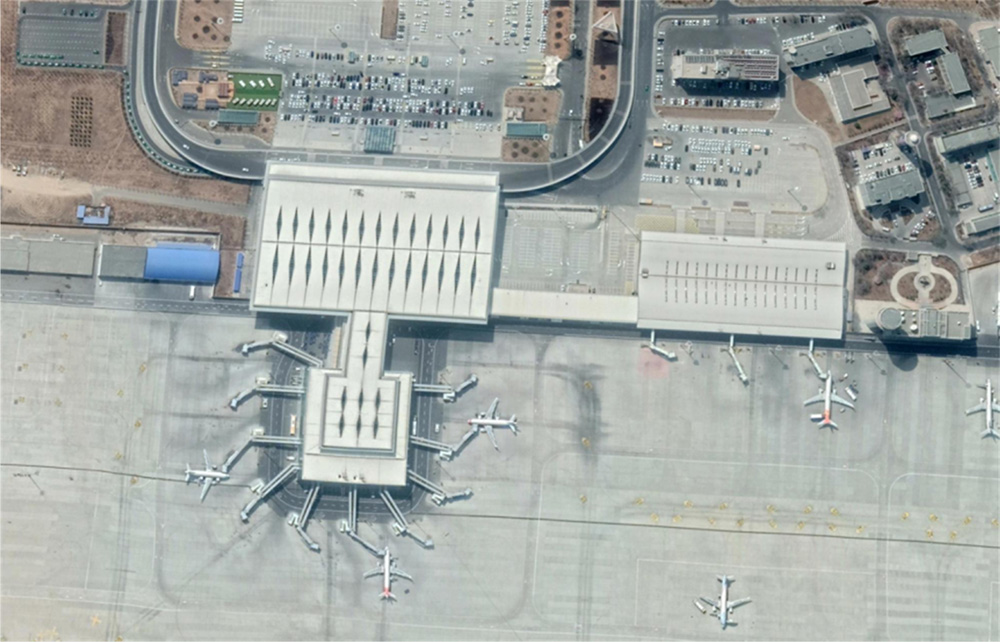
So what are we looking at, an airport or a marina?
airport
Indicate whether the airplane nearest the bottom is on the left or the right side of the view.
right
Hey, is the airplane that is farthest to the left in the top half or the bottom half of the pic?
bottom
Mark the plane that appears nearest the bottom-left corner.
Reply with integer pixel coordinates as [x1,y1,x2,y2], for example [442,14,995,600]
[184,448,230,498]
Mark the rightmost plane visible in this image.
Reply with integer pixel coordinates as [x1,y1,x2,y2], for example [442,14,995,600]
[965,380,1000,437]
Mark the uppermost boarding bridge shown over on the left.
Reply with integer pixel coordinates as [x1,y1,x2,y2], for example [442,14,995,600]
[241,331,326,368]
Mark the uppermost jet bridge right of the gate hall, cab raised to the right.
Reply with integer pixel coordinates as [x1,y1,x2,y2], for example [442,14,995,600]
[411,374,479,404]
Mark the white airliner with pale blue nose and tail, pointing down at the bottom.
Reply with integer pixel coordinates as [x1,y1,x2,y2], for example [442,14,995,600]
[699,575,750,630]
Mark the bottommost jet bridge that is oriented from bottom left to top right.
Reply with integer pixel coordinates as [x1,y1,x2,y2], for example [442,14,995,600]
[238,461,300,523]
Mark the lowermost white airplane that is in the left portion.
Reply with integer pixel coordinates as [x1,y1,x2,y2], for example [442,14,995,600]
[362,547,412,600]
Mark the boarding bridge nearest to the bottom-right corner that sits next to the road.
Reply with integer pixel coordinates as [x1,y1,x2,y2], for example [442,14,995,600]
[807,338,827,381]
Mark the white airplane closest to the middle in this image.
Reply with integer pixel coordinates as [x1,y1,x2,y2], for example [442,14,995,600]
[468,398,521,448]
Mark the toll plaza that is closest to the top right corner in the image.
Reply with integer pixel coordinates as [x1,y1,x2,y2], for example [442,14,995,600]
[542,55,562,86]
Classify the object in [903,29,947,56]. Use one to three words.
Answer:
building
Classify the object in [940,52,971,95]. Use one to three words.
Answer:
building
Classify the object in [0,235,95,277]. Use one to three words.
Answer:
hangar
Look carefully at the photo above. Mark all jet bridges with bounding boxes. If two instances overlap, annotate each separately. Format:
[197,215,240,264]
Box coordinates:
[229,375,305,408]
[727,333,748,384]
[378,487,435,547]
[286,484,322,551]
[408,423,479,462]
[406,468,474,506]
[648,329,677,360]
[338,486,385,557]
[411,374,479,404]
[238,461,300,523]
[241,331,326,368]
[807,338,827,381]
[221,426,302,474]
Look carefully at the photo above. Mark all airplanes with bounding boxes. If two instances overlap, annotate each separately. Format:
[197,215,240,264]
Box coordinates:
[184,448,230,498]
[804,371,854,428]
[468,398,521,448]
[362,547,412,600]
[965,380,1000,437]
[699,575,750,630]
